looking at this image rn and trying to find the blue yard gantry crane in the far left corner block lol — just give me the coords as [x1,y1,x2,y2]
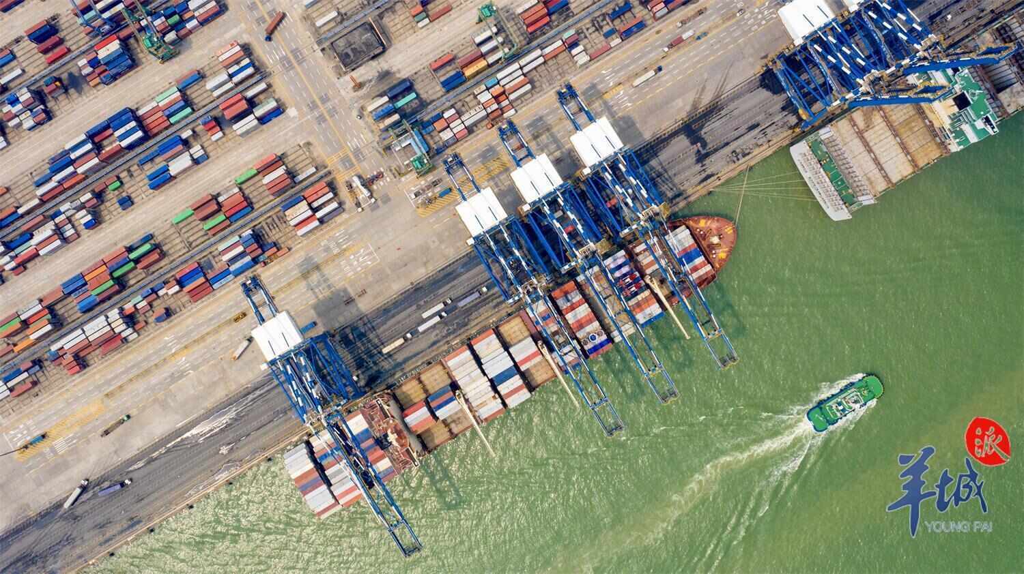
[65,0,117,39]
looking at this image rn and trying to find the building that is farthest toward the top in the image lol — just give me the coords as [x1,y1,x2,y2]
[332,18,390,70]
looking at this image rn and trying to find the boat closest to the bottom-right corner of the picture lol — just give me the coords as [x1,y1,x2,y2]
[806,379,883,431]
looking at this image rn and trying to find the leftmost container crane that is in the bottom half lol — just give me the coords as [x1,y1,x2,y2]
[237,279,423,559]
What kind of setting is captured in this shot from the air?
port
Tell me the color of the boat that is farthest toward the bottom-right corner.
green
